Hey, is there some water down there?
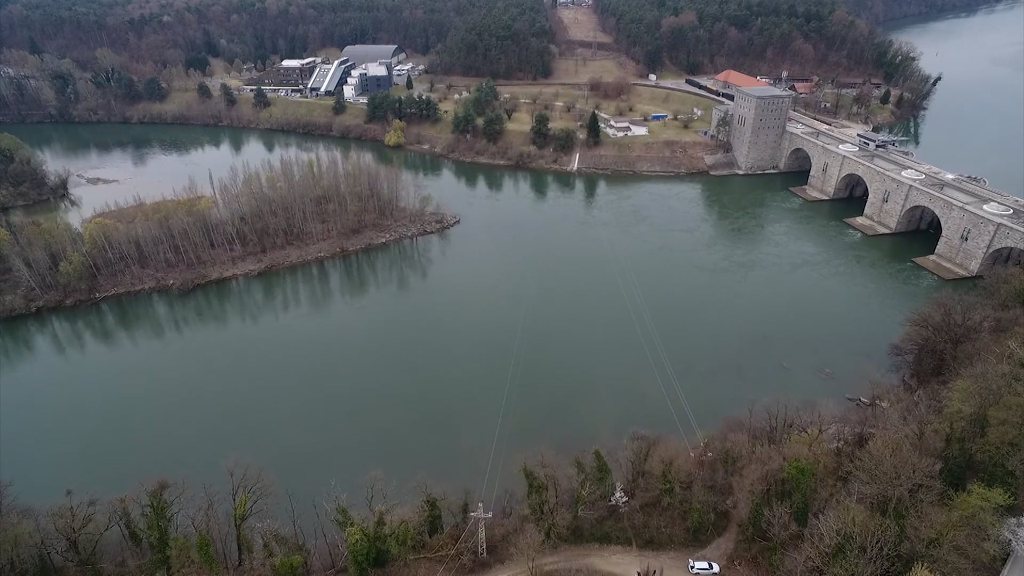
Yes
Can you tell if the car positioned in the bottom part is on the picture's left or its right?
right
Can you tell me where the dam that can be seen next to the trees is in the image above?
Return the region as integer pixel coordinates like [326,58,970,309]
[782,108,1024,276]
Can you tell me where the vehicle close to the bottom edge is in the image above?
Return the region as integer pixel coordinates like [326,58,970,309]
[686,556,721,576]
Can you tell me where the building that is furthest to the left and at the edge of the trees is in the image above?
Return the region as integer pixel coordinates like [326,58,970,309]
[226,58,326,98]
